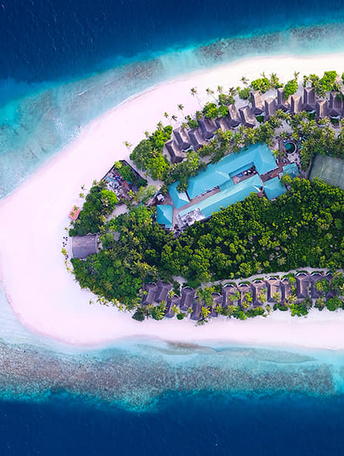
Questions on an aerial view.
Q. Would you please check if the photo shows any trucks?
No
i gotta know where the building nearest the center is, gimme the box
[157,205,173,227]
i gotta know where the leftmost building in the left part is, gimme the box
[70,234,98,257]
